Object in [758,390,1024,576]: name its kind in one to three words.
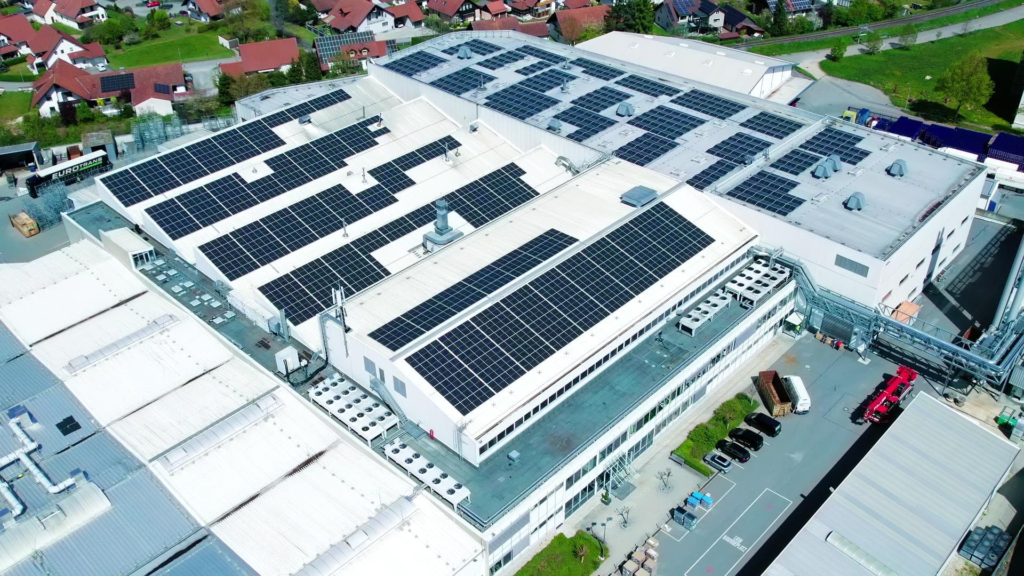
warehouse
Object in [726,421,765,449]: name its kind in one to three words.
car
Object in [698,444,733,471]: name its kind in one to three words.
car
